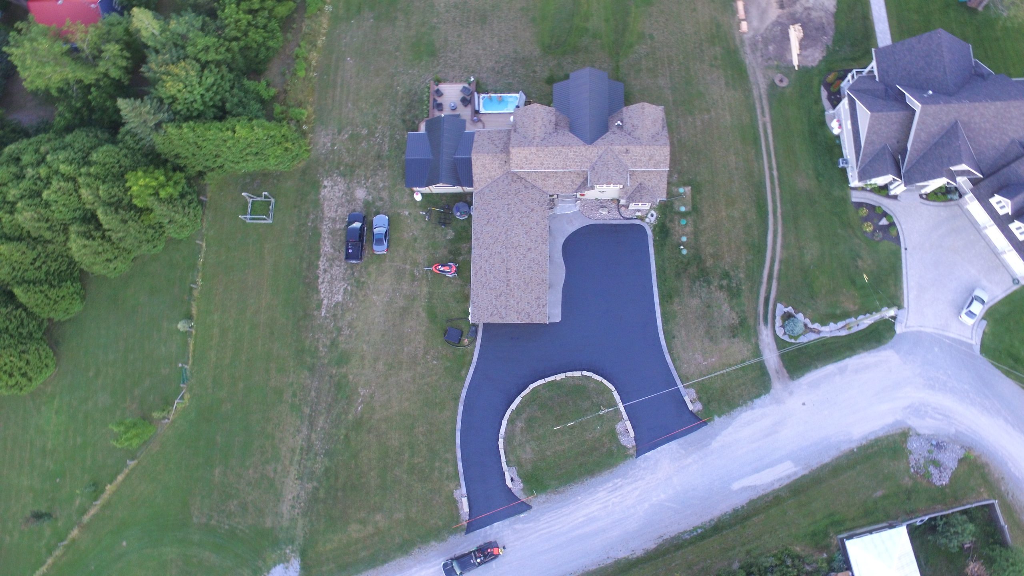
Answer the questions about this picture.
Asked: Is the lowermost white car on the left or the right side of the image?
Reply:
right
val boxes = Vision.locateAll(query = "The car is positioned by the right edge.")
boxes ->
[954,285,991,331]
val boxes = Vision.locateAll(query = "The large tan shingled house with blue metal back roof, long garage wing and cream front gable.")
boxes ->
[469,67,670,324]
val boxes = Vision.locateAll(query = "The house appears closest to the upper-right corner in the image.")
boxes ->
[834,29,1024,278]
